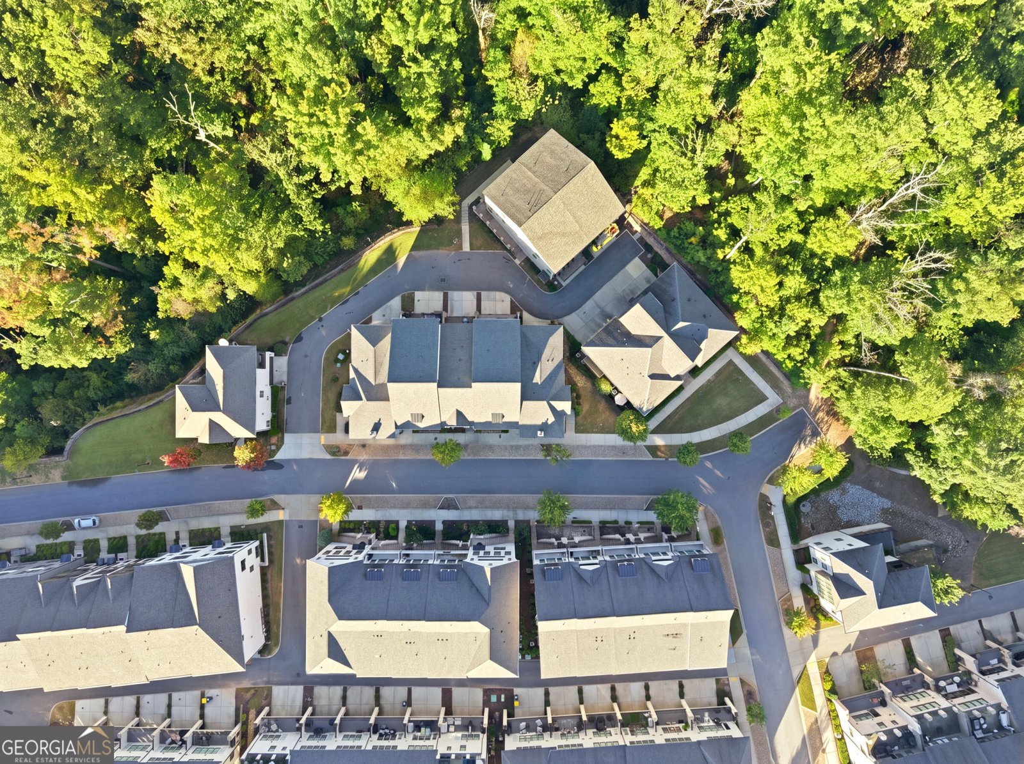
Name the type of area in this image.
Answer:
residential area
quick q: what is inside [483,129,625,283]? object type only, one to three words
house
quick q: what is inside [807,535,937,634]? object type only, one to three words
house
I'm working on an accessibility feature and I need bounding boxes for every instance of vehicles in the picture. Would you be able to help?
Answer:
[74,517,100,529]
